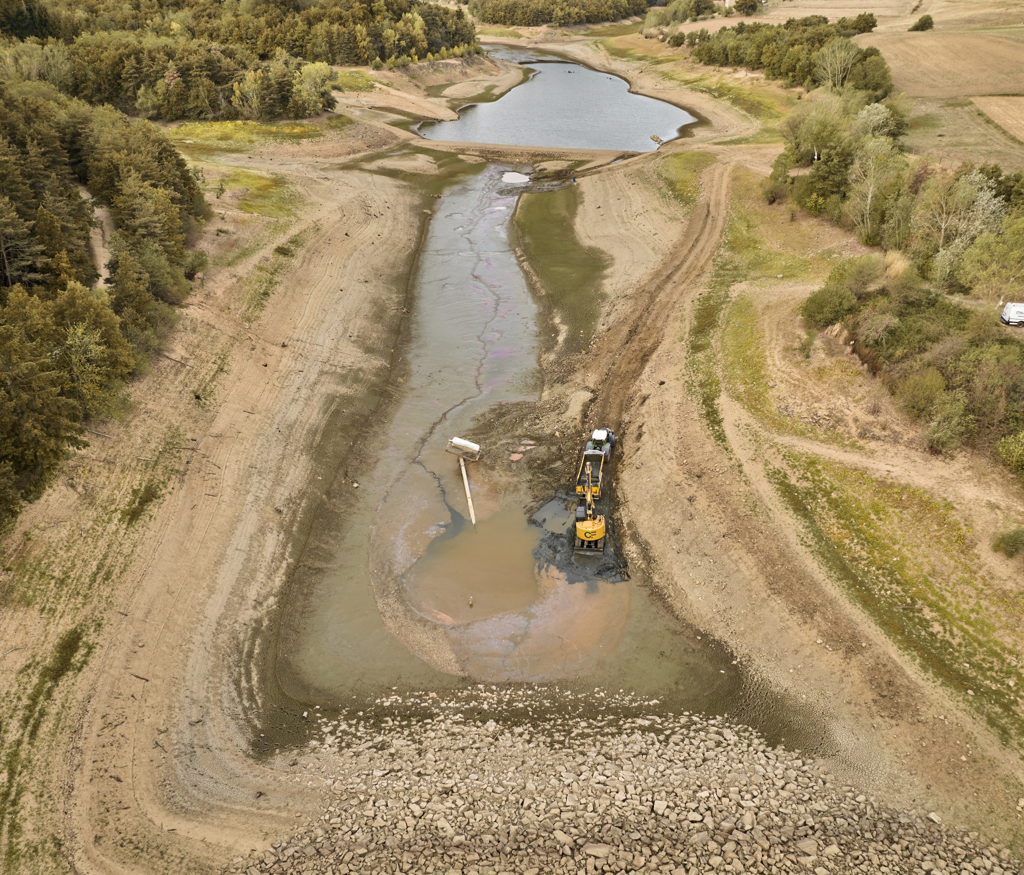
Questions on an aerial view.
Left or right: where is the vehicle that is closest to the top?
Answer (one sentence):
It is on the right.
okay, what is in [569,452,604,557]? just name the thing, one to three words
work vehicle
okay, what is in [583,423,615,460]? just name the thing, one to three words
work vehicle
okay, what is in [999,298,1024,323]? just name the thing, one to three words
vehicle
